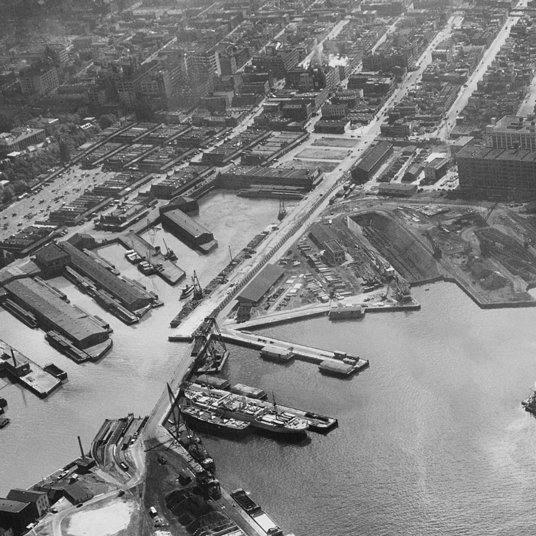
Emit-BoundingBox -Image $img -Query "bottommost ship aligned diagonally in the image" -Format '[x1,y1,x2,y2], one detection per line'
[251,511,282,535]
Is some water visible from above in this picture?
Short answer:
Yes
